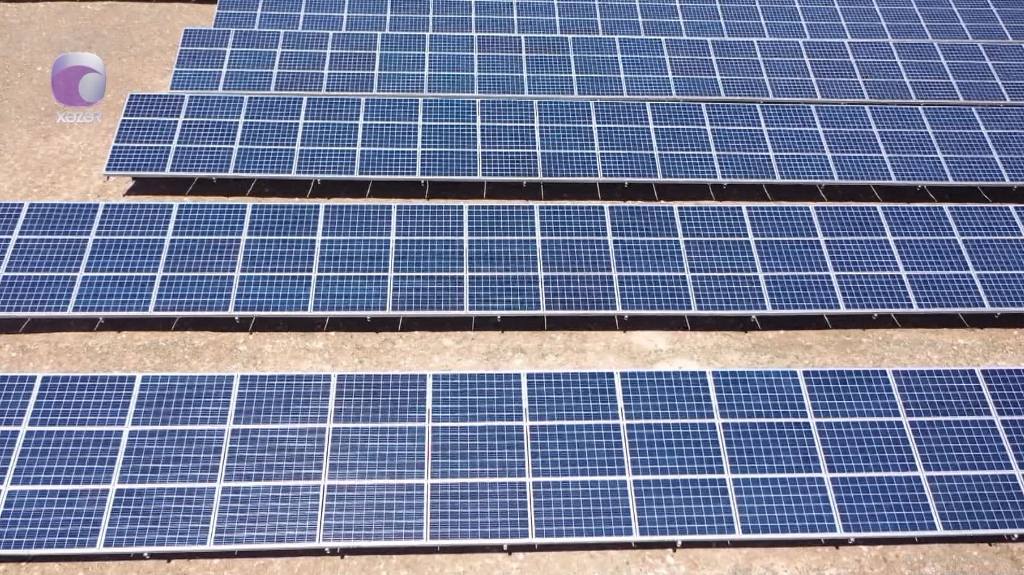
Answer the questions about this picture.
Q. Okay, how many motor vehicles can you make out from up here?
zero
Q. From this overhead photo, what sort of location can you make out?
solar farm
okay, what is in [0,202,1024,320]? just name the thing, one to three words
solar array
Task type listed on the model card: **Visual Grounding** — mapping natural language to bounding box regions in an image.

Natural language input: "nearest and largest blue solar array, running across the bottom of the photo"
[0,368,1024,554]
